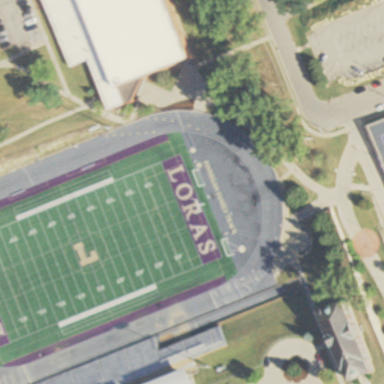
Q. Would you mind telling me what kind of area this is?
sports ground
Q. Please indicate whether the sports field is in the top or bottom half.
bottom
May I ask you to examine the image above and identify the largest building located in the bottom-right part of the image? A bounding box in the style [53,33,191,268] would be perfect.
[318,302,372,382]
